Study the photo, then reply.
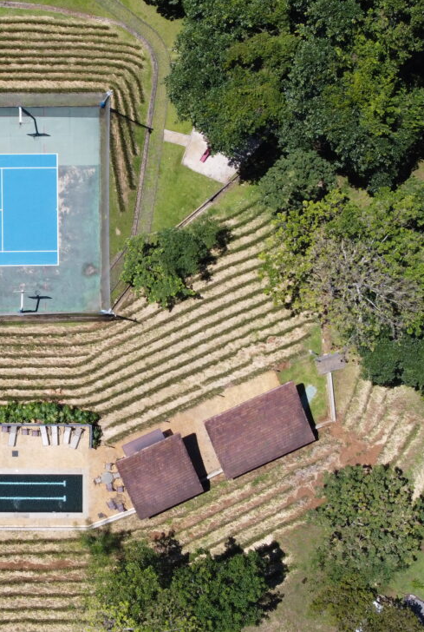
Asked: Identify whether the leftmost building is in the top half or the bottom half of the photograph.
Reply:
bottom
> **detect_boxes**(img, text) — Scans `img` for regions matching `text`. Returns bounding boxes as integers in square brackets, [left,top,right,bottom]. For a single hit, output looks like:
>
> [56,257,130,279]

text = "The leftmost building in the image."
[115,432,204,520]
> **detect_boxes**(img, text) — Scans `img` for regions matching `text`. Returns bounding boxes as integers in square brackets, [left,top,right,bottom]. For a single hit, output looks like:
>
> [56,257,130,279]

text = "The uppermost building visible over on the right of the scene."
[203,383,316,480]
